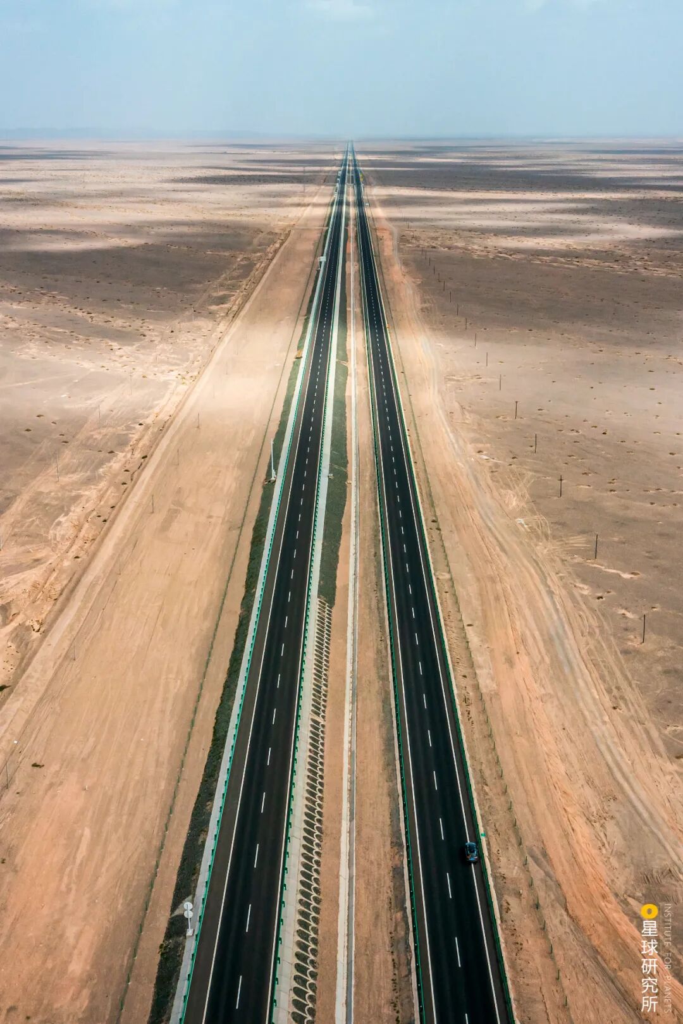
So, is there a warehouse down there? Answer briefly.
No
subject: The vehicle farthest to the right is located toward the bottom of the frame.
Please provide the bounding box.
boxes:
[462,841,478,863]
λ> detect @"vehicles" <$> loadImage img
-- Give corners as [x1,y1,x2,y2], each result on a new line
[462,841,478,863]
[296,351,306,359]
